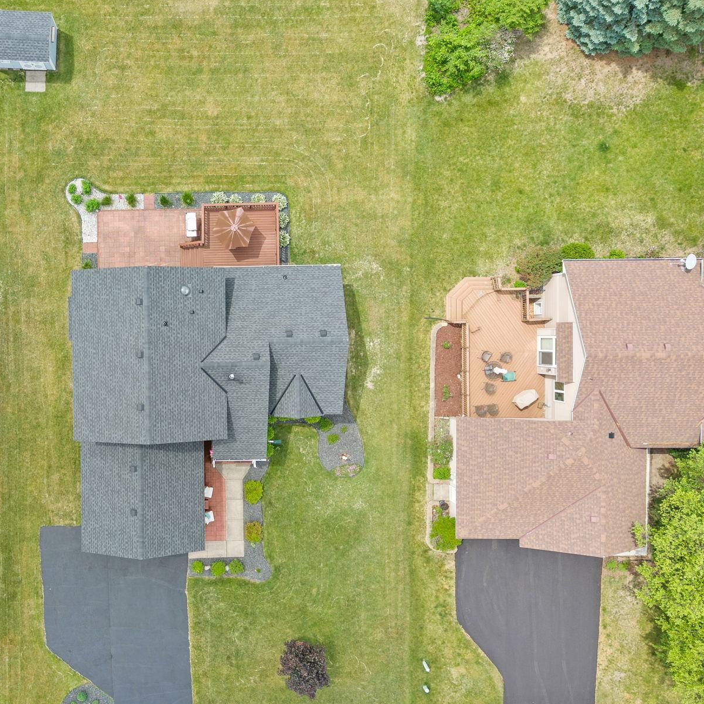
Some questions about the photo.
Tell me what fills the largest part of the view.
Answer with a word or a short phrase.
grass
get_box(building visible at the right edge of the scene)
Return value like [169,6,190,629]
[450,254,704,558]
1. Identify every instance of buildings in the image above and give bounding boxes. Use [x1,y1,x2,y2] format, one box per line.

[0,9,57,69]
[450,254,704,558]
[68,264,348,559]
